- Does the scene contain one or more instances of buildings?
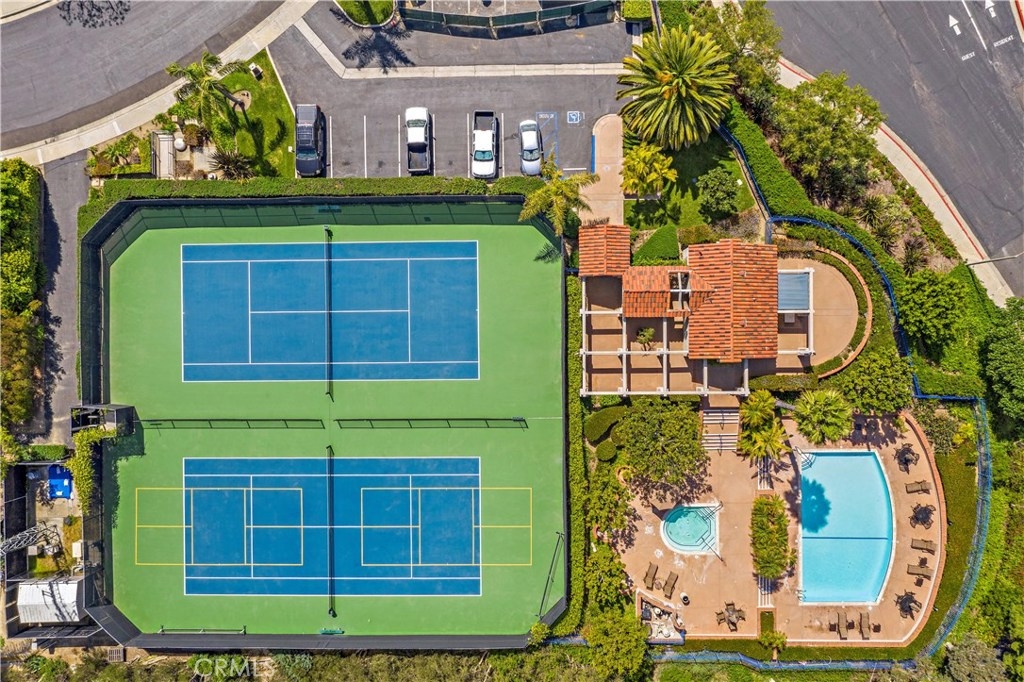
Yes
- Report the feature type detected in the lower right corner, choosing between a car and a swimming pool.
swimming pool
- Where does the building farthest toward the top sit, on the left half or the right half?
right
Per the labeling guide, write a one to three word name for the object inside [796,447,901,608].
swimming pool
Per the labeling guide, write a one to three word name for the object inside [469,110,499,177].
truck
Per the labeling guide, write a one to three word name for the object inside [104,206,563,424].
tennis court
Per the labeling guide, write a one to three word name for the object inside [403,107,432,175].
truck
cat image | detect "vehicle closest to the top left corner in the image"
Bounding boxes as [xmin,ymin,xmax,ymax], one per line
[292,105,324,178]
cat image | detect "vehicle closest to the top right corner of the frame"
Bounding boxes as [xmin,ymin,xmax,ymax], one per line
[518,120,545,177]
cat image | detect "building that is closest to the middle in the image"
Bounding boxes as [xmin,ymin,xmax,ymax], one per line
[578,224,815,397]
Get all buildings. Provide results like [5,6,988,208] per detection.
[14,576,86,622]
[578,224,815,397]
